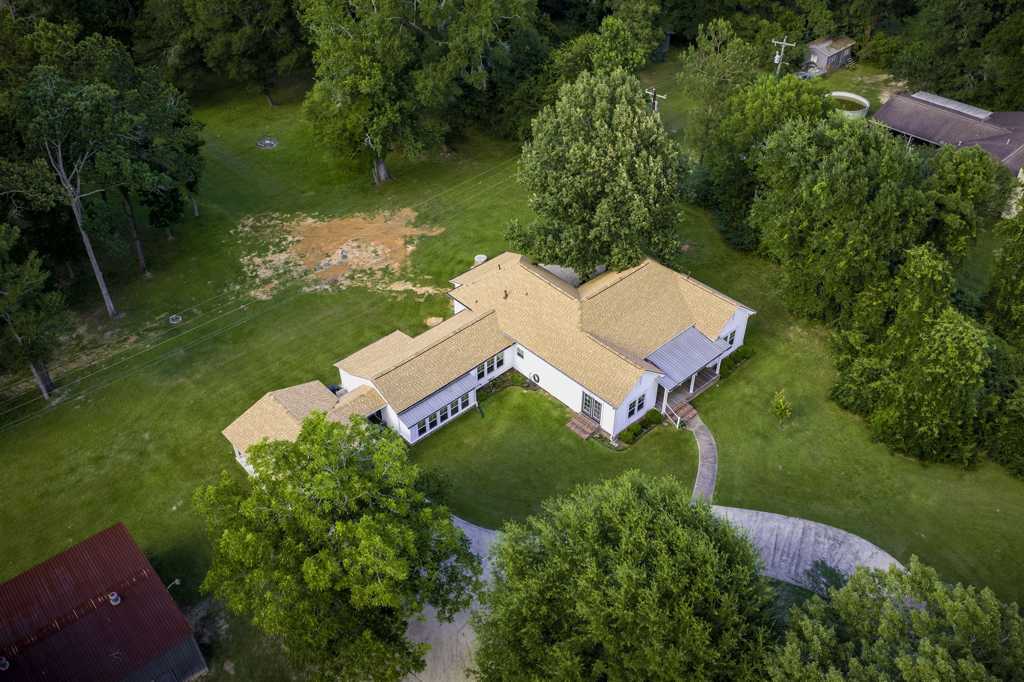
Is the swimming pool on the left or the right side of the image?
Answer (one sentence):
The swimming pool appears in the right half of the scene.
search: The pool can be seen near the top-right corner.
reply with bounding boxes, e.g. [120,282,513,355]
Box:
[822,92,873,122]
